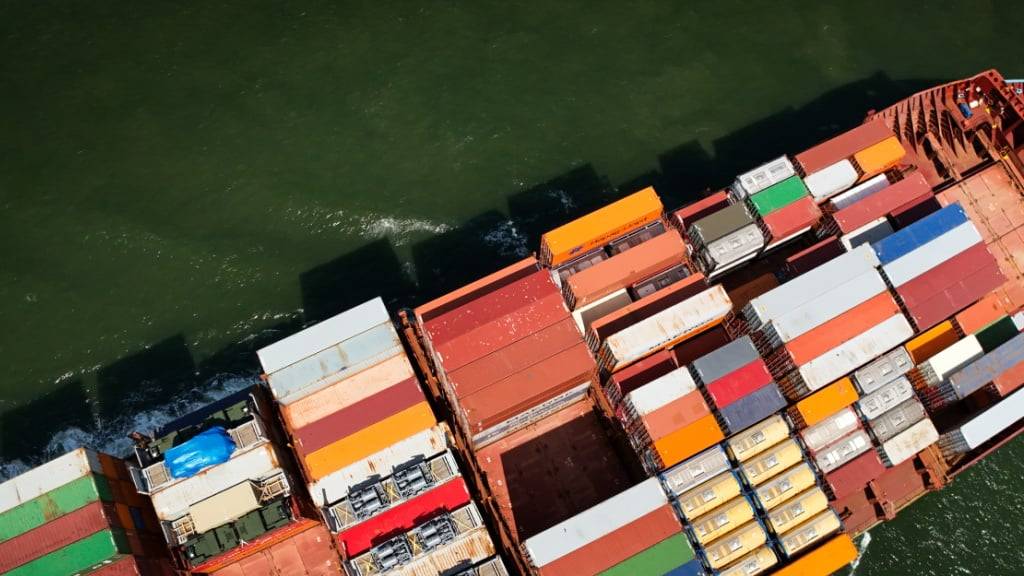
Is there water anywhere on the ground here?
Yes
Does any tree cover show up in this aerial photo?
No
